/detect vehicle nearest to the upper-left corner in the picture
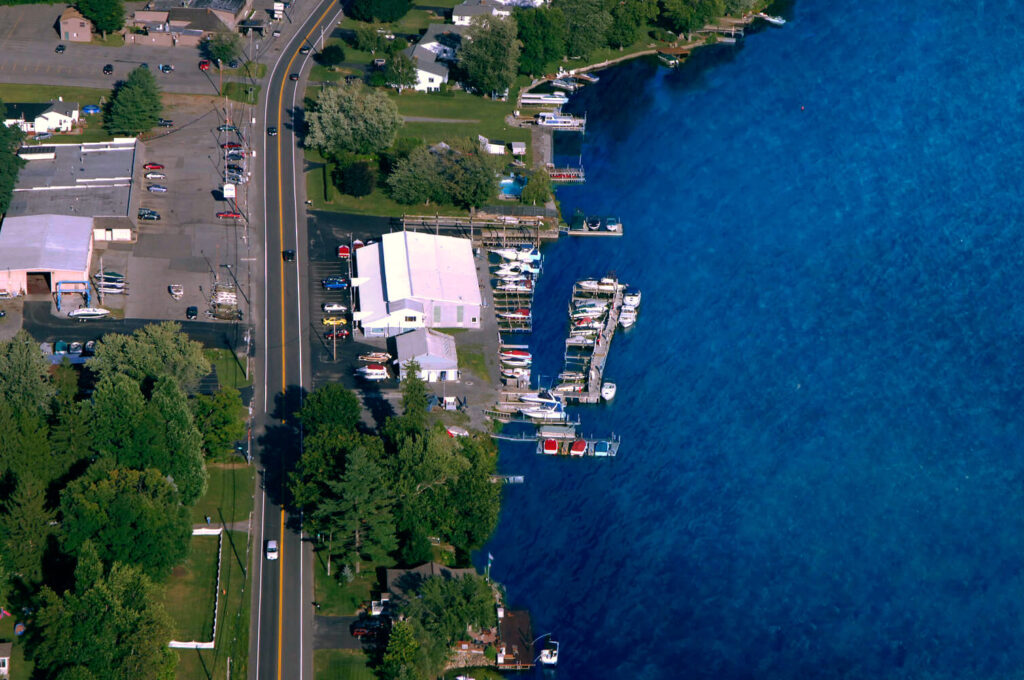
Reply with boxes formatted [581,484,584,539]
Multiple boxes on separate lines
[56,41,68,53]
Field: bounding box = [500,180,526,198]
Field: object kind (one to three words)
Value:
swimming pool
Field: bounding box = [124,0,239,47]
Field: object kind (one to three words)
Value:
building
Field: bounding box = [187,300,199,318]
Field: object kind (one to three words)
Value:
vehicle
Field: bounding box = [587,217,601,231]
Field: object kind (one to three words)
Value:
boat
